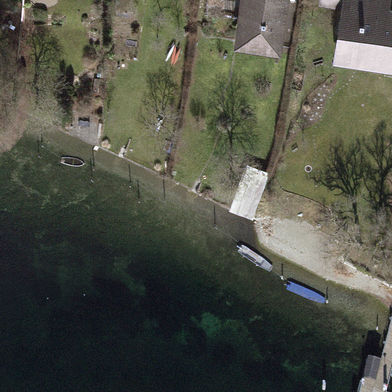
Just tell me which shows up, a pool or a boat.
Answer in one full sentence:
It is a boat that can be seen here.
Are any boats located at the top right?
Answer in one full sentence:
No, I can find no boat at the top right.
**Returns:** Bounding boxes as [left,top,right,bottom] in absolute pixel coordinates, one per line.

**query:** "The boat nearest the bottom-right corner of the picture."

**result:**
[284,280,327,304]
